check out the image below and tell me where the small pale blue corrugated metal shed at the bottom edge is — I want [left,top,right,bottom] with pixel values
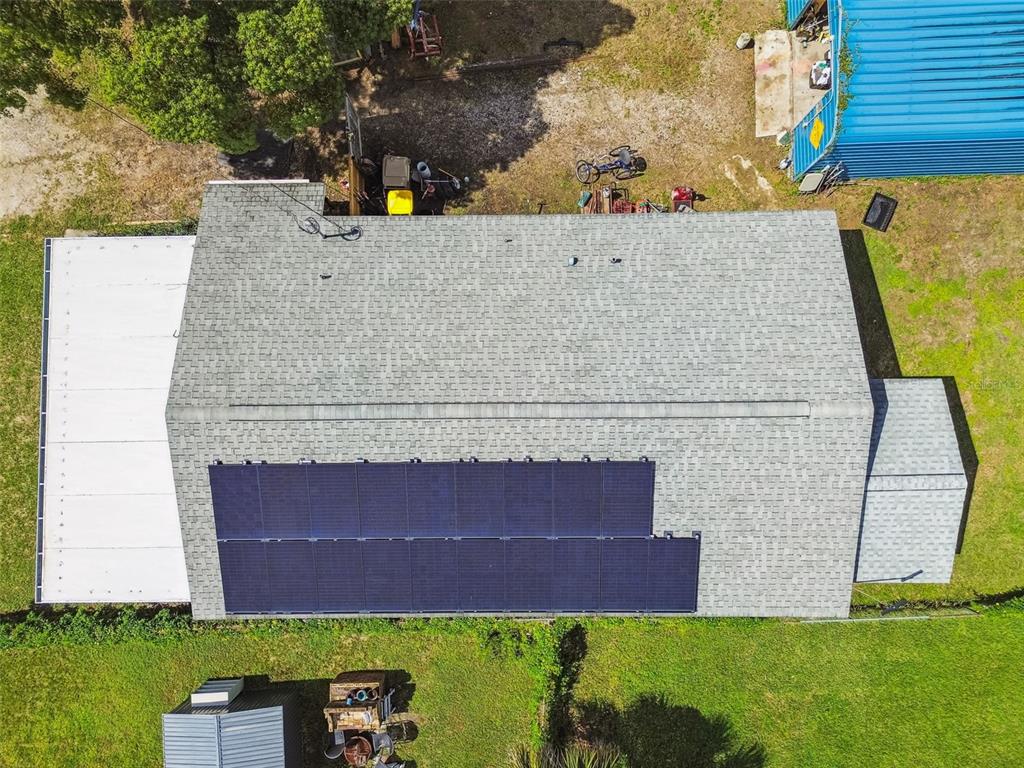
[161,686,299,768]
